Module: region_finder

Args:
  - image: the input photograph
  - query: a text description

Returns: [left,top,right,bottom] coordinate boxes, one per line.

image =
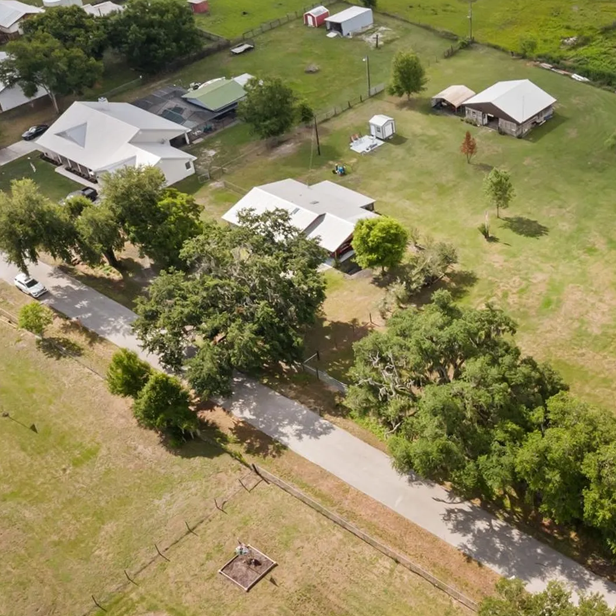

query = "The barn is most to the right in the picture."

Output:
[460,80,558,139]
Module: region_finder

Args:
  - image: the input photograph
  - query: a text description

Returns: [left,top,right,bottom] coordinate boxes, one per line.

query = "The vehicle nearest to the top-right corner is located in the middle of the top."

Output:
[335,161,347,175]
